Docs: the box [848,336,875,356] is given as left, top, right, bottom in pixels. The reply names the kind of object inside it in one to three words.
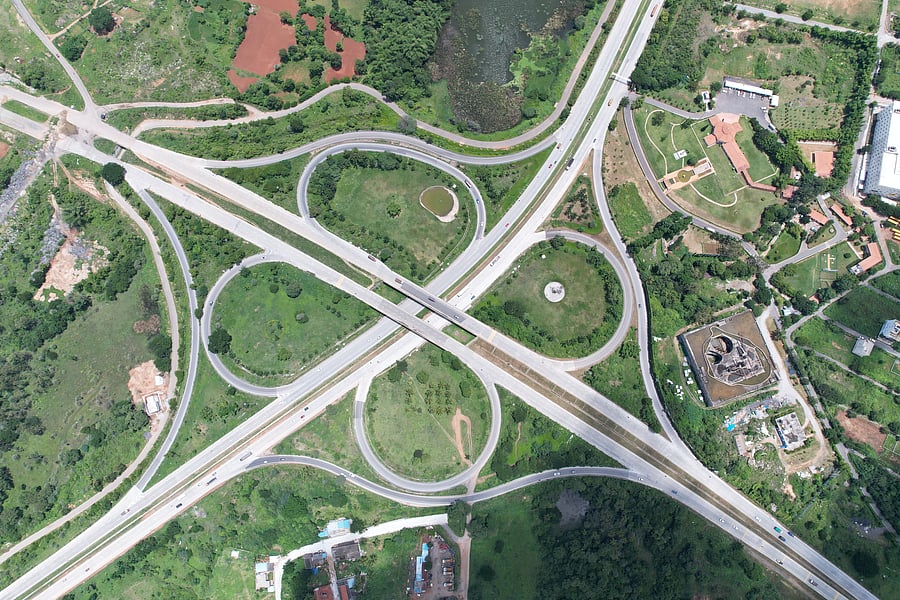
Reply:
building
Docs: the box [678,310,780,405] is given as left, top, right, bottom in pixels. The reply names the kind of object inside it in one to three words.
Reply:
building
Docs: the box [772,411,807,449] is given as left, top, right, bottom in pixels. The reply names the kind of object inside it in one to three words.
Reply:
house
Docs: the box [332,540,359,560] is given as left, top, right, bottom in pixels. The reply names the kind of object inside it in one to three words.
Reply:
house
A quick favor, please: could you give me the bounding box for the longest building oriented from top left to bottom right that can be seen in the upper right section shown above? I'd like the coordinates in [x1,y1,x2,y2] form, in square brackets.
[702,117,795,199]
